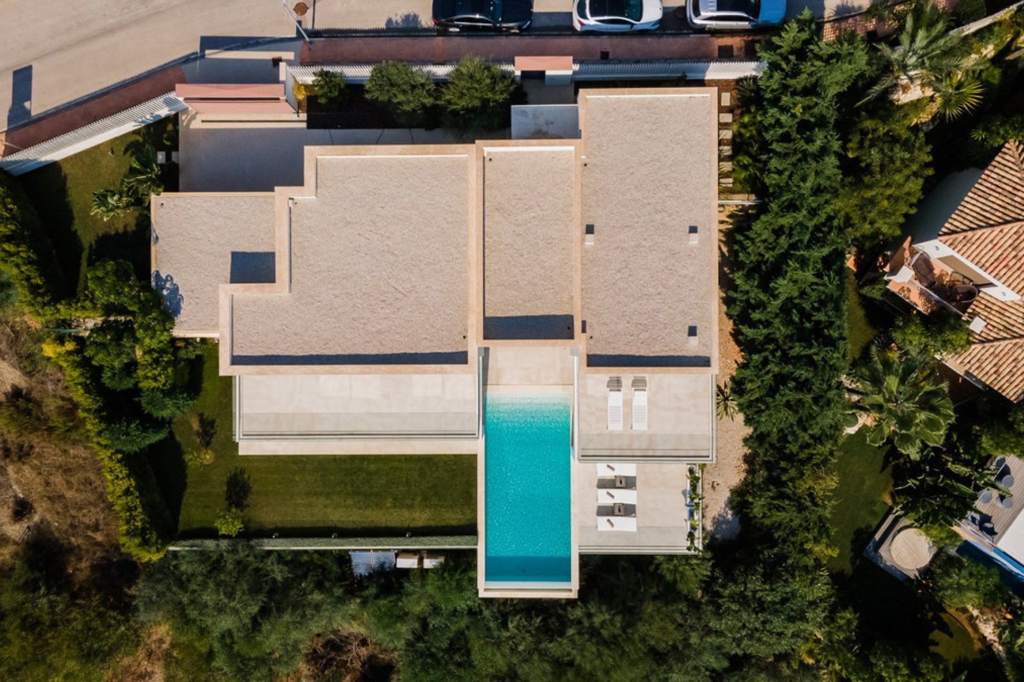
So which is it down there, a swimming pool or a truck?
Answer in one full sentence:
The one in the frame is a swimming pool.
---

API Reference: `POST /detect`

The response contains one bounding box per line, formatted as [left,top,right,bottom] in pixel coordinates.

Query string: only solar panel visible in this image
[348,549,399,574]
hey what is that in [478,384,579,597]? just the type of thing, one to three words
swimming pool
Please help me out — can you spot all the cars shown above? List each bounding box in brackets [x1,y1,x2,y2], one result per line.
[572,0,661,32]
[684,0,786,32]
[433,0,532,32]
